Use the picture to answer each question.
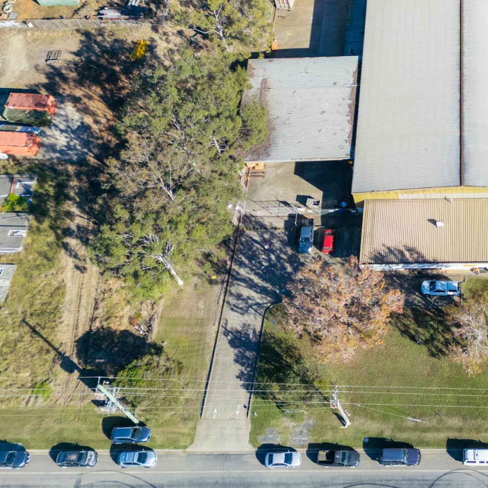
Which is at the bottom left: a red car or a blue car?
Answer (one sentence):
Visible at the bottom left is a blue car.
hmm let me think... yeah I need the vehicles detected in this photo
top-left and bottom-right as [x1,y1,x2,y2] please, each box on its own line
[420,277,461,297]
[55,448,101,469]
[378,445,422,468]
[109,424,153,444]
[316,446,360,468]
[265,448,303,469]
[297,218,315,257]
[117,447,160,468]
[463,448,488,468]
[321,229,339,258]
[0,445,32,468]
